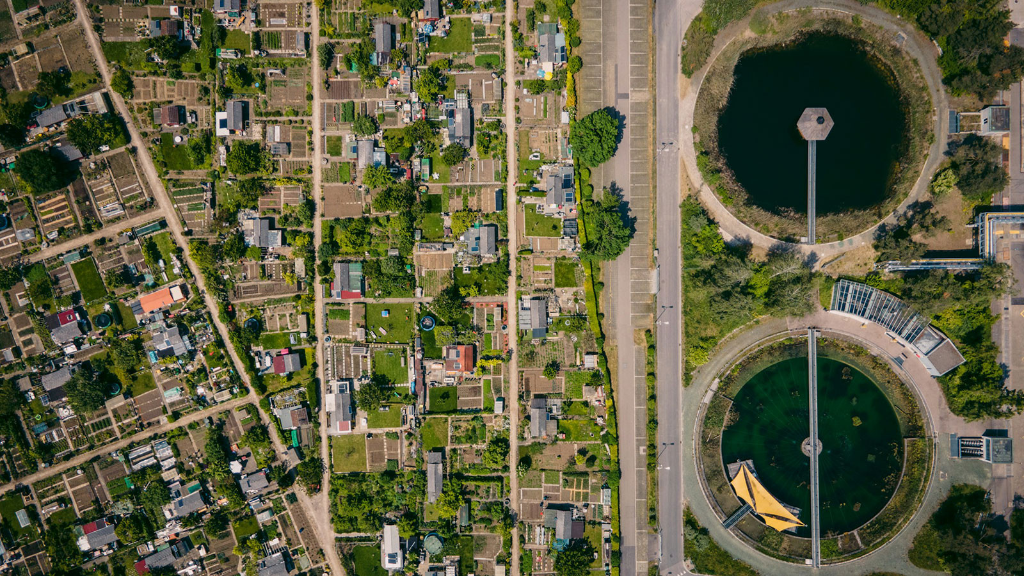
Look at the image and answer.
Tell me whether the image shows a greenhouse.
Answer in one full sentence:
Yes, I can see a greenhouse in this picture.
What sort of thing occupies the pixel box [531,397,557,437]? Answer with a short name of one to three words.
shed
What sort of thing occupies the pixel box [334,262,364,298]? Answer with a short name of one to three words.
shed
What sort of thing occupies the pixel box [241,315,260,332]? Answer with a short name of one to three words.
trampoline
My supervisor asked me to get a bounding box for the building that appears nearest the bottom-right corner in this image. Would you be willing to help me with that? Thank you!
[960,434,1013,463]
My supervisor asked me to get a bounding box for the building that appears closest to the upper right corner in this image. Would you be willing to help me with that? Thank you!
[959,105,1010,135]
